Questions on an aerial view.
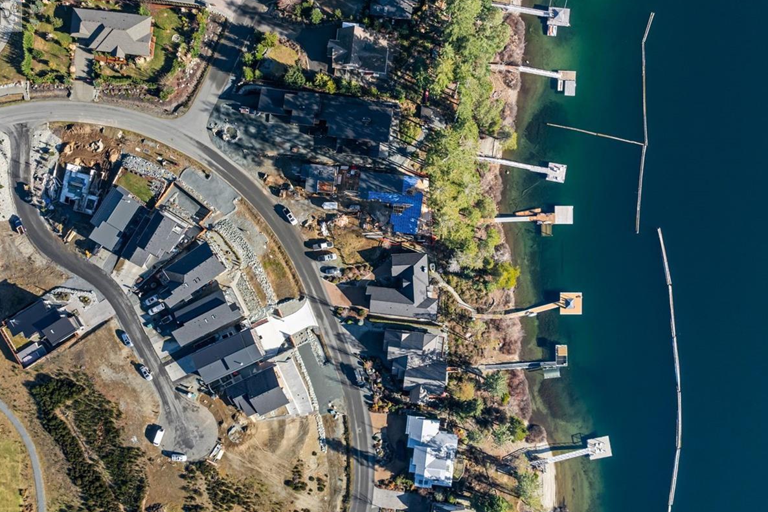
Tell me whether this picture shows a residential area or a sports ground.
residential area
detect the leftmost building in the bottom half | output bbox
[8,298,85,367]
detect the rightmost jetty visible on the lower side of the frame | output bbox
[531,435,614,467]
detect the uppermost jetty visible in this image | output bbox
[492,0,571,26]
